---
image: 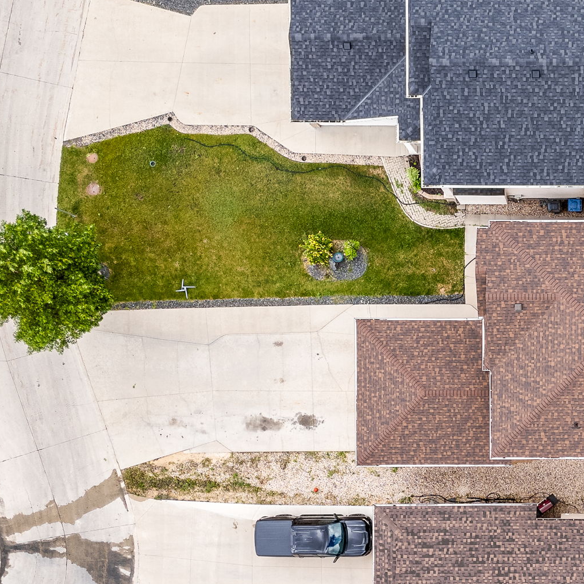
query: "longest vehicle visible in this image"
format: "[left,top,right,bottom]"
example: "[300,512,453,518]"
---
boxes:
[255,513,372,563]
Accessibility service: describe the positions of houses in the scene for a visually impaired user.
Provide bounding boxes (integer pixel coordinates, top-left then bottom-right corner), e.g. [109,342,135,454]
[281,0,584,209]
[355,218,584,467]
[372,504,584,584]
